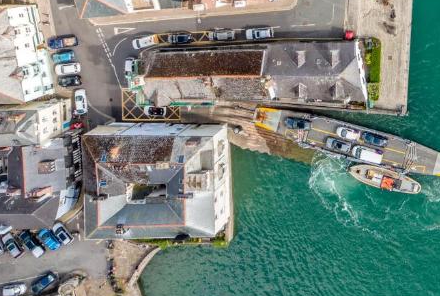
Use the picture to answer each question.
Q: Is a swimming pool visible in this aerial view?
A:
No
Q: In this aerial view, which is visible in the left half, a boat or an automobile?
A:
automobile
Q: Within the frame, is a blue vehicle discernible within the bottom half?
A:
Yes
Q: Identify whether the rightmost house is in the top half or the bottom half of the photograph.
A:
top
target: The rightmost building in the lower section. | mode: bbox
[81,120,230,240]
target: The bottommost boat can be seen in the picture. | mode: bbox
[348,165,422,193]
